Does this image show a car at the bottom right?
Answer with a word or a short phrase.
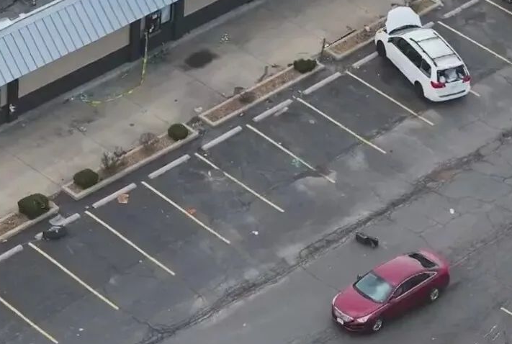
Yes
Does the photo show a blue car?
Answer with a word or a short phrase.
No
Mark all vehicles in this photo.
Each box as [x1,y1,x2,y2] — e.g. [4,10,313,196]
[376,2,478,98]
[332,245,453,331]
